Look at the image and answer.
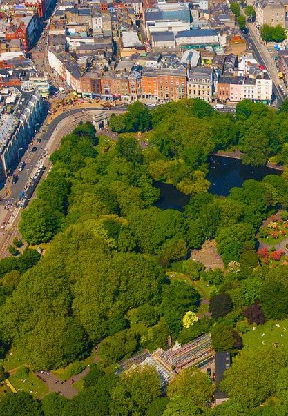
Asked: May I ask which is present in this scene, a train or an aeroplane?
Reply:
train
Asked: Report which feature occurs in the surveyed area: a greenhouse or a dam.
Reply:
greenhouse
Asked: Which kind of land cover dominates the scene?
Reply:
trees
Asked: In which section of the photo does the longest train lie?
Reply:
left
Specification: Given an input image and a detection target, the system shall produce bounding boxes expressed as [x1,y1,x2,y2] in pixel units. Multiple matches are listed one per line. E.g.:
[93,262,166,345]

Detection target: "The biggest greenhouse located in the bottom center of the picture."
[119,335,214,391]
